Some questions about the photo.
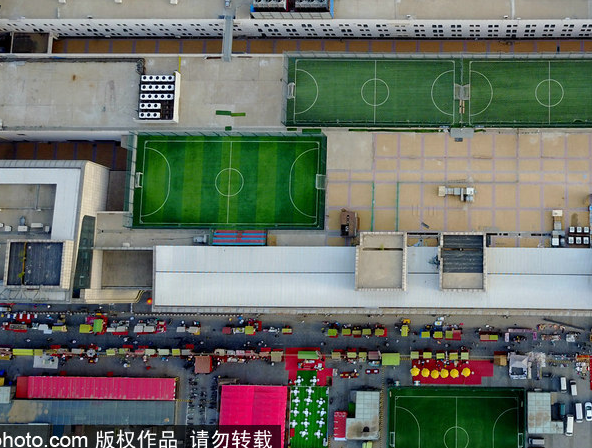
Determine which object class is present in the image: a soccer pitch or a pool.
soccer pitch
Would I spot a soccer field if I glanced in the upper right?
Yes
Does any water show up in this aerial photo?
No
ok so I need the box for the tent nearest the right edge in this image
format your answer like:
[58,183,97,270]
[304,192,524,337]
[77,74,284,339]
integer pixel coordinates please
[508,352,529,378]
